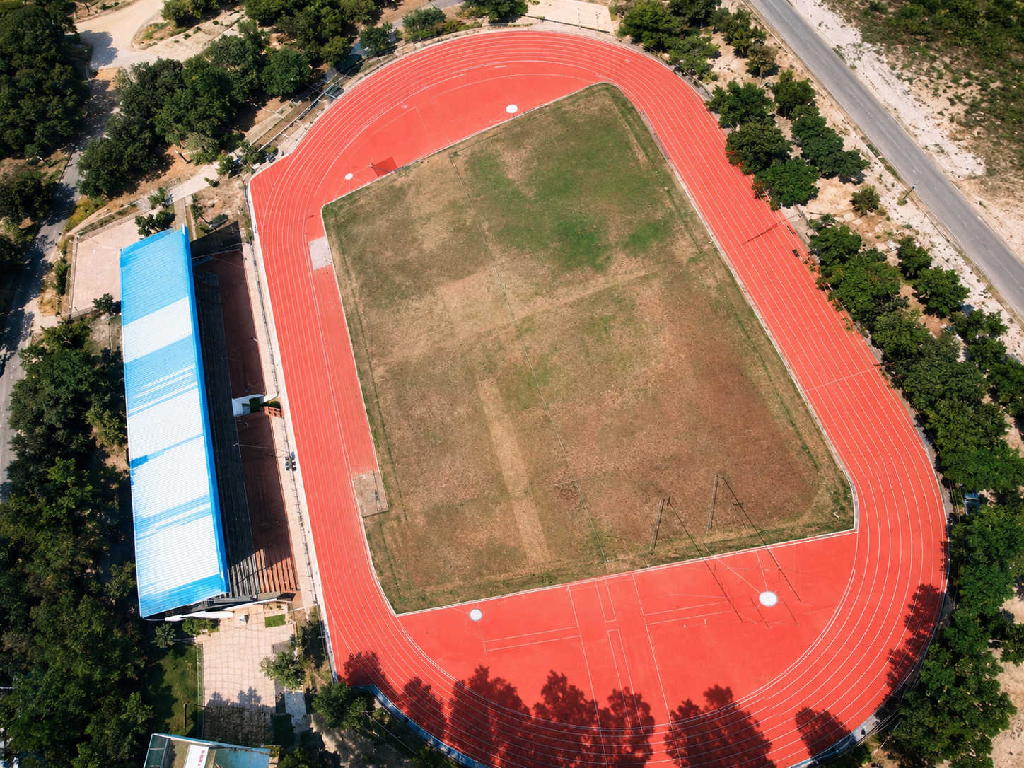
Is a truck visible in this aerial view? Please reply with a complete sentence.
No, no truck is visible in the view.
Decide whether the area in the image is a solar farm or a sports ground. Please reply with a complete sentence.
The area seen from above is a sports ground.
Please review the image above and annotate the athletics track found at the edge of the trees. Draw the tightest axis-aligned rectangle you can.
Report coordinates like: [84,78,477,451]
[250,30,949,768]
